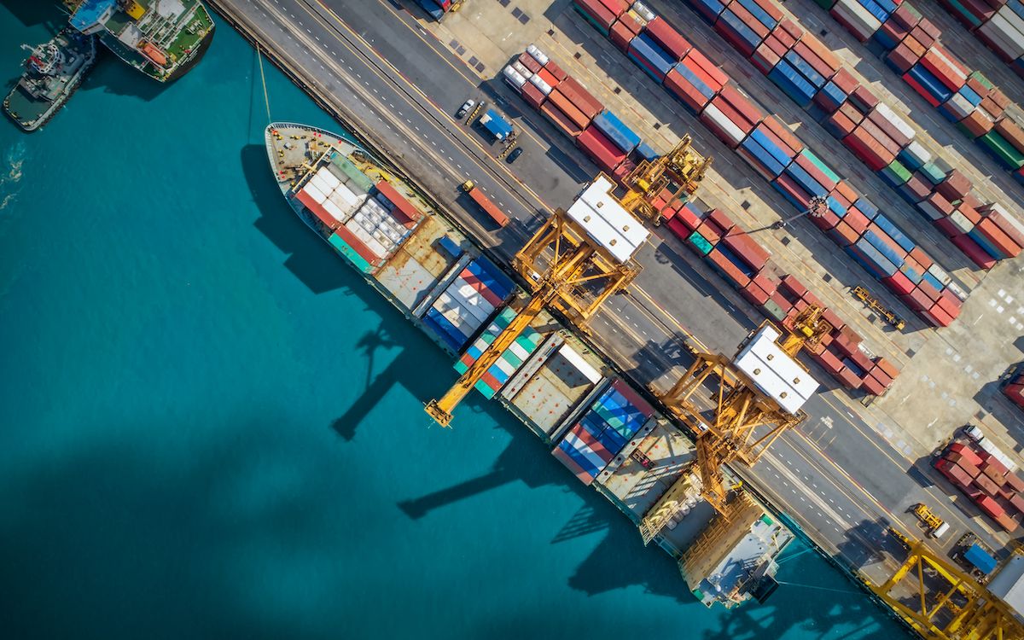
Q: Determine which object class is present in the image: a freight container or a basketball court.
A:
freight container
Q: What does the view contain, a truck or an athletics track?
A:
truck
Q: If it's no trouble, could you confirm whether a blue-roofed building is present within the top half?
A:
Yes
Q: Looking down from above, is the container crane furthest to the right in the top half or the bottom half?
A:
bottom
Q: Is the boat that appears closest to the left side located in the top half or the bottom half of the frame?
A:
top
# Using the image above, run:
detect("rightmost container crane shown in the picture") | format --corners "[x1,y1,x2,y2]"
[848,522,1024,640]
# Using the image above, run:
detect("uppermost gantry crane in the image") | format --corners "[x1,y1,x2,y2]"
[621,130,718,233]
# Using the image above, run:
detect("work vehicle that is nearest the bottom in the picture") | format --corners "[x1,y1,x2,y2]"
[909,502,951,539]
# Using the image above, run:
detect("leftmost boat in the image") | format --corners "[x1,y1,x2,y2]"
[2,28,102,131]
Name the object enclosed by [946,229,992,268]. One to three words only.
shipping container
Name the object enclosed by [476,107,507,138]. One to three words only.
building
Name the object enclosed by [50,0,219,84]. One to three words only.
ship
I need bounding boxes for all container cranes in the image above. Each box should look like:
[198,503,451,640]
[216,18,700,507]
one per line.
[848,522,1024,640]
[644,305,838,527]
[621,130,718,233]
[420,155,671,432]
